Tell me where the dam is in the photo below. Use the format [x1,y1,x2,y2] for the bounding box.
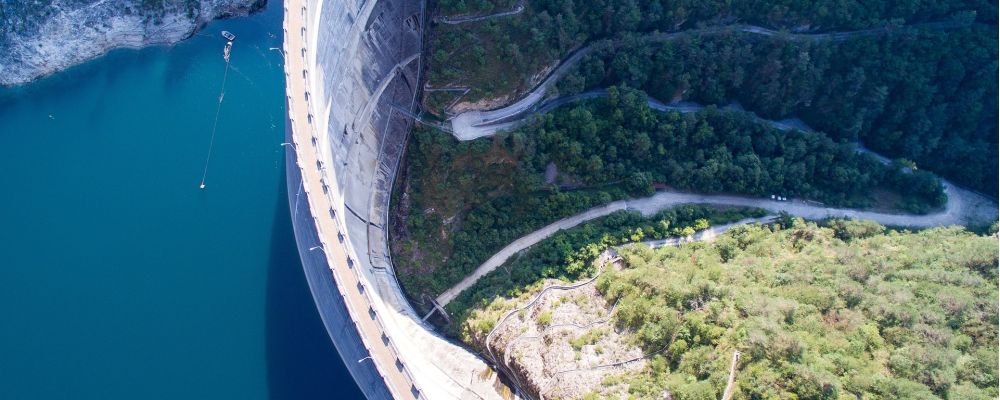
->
[282,0,521,400]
